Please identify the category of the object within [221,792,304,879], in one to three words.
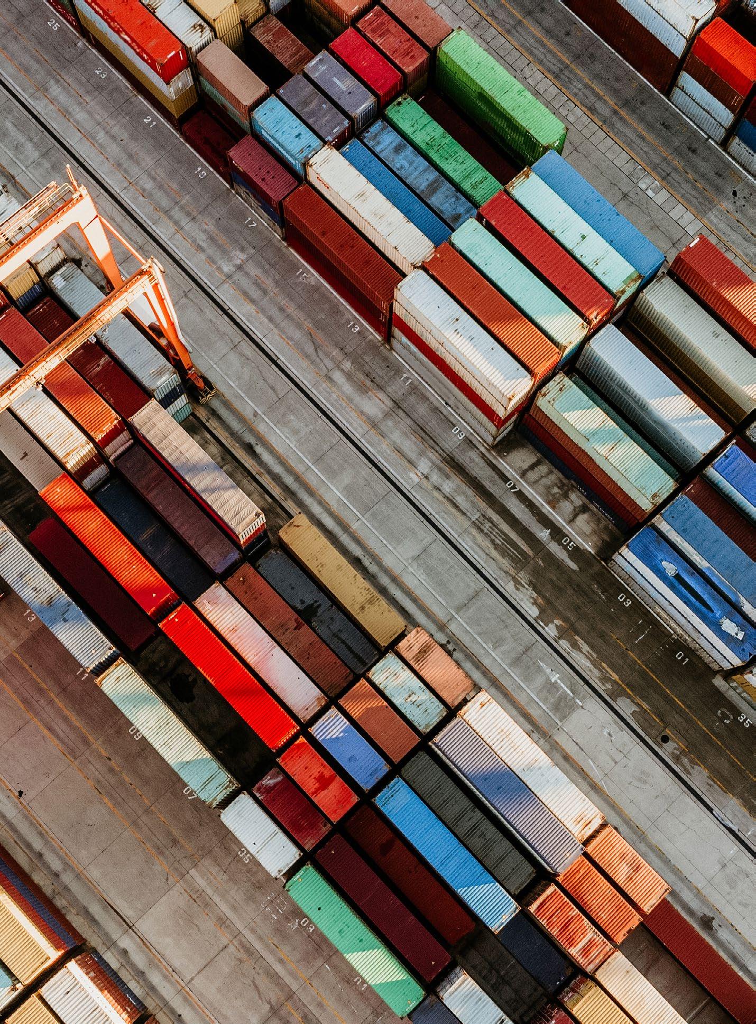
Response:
shipping container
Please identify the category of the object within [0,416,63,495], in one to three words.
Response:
shipping container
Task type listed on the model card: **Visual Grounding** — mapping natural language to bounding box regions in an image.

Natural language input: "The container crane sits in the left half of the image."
[0,143,222,423]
